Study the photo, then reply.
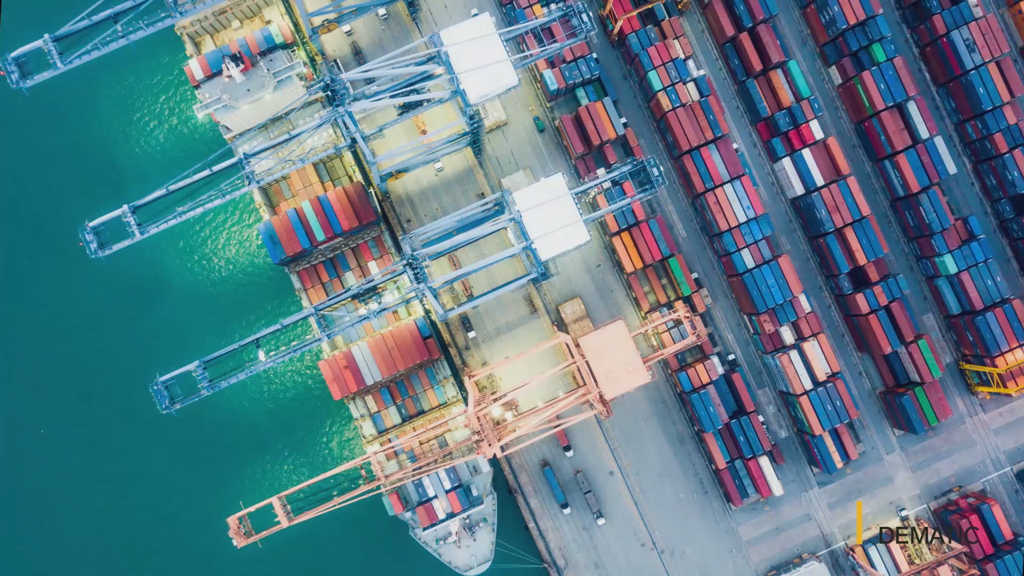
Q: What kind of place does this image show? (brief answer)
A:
port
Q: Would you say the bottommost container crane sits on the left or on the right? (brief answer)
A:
right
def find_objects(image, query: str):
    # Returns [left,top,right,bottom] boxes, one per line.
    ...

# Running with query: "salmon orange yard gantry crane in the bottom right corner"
[842,512,979,576]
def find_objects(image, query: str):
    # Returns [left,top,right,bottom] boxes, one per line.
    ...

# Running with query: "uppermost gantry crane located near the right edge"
[953,358,1024,399]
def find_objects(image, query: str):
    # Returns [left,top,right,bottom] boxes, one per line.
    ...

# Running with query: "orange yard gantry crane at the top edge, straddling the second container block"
[600,0,694,48]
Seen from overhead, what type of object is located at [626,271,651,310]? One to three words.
shipping container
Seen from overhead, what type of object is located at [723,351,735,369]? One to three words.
vehicle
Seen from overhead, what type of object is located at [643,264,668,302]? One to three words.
shipping container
